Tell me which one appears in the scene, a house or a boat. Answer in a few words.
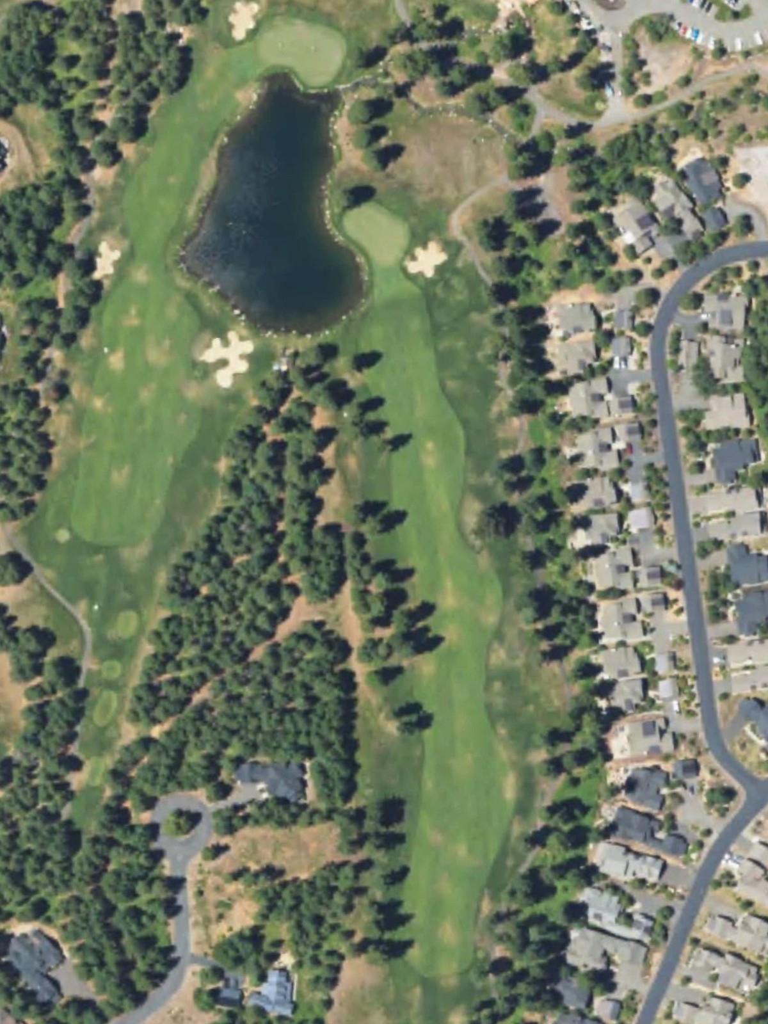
house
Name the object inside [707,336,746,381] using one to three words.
house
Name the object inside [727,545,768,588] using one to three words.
house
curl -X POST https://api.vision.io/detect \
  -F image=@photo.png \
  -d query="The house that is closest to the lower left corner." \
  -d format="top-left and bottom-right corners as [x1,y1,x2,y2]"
[4,927,61,1005]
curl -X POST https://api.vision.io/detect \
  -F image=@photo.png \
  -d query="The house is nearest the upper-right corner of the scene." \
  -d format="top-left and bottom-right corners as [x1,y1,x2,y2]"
[683,157,723,204]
